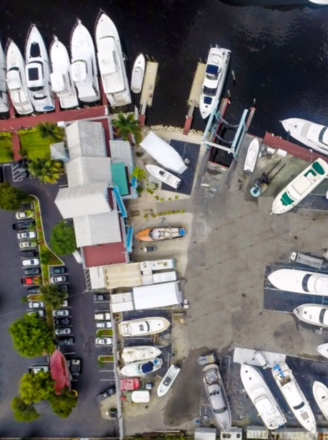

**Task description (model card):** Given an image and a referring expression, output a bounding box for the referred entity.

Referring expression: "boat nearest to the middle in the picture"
[135,227,187,242]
